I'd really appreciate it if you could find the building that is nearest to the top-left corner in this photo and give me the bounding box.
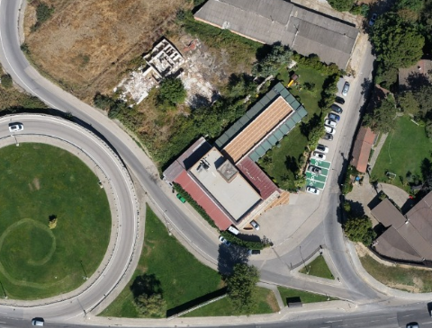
[143,38,185,83]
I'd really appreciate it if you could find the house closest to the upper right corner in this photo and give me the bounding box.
[398,60,432,87]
